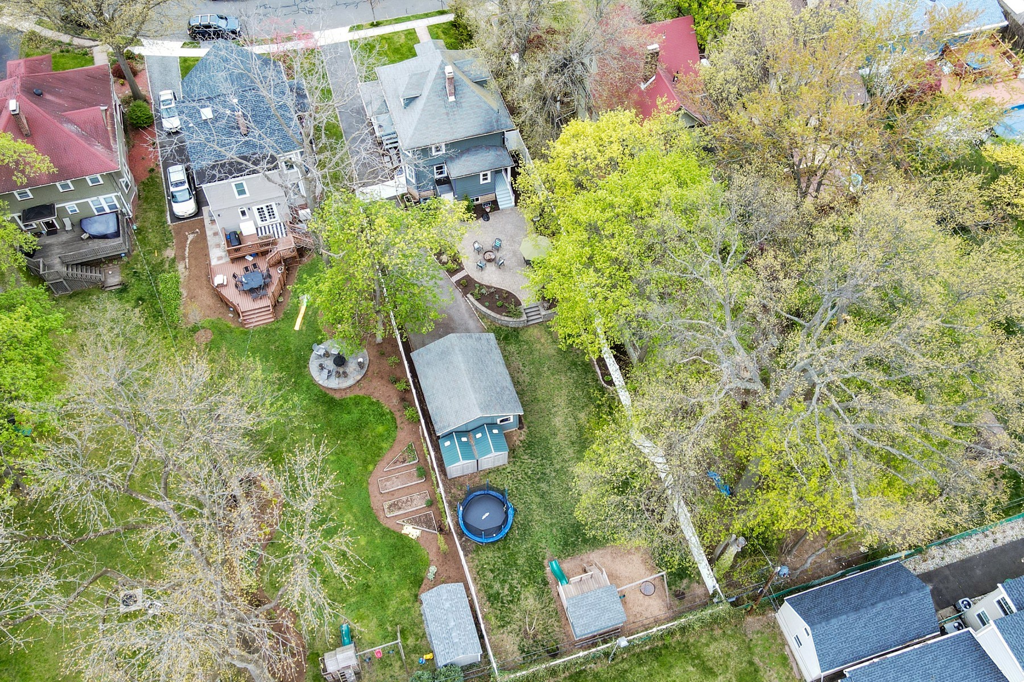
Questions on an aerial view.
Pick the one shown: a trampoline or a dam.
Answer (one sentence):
The image shows a trampoline.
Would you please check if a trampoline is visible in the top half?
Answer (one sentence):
No, no trampoline is visible in the top half.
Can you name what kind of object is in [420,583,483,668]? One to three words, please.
shed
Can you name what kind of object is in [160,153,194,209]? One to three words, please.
car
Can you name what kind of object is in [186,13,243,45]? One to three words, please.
car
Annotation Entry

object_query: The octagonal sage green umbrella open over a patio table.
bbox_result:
[519,236,553,269]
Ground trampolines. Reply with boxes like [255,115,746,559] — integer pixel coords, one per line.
[457,481,515,554]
